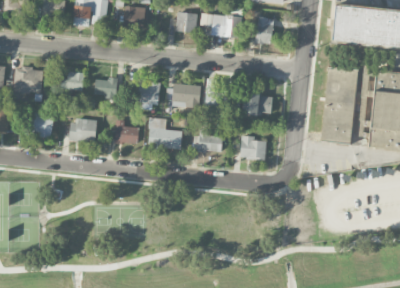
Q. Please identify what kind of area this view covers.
residential area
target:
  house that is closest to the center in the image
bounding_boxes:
[192,135,223,152]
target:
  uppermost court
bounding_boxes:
[9,182,39,216]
